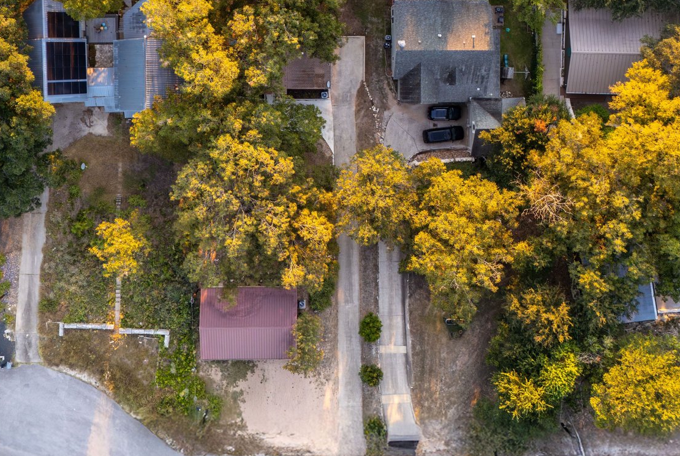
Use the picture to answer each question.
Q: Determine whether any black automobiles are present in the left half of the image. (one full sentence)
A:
No, no black automobile can be made out in the left half of the image.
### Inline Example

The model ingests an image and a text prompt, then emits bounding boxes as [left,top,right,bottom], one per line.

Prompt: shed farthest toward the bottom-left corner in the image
[200,284,298,361]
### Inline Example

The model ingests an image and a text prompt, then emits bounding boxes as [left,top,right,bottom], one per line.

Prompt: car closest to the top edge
[427,105,463,123]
